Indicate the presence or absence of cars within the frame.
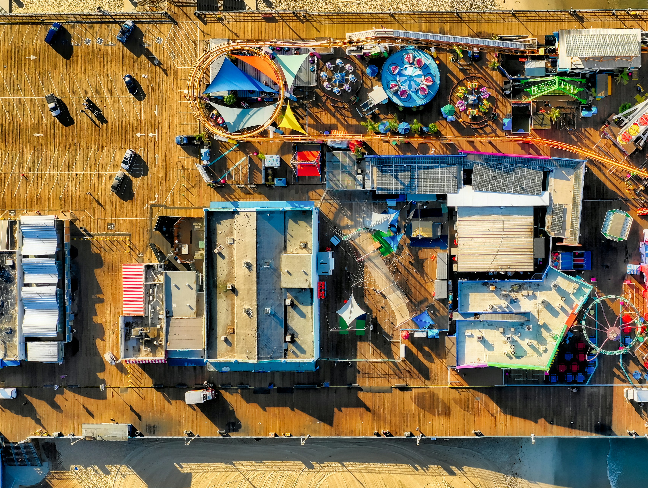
Yes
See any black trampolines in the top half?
No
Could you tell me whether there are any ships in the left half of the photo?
No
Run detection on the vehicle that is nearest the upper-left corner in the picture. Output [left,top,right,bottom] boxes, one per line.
[44,21,63,47]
